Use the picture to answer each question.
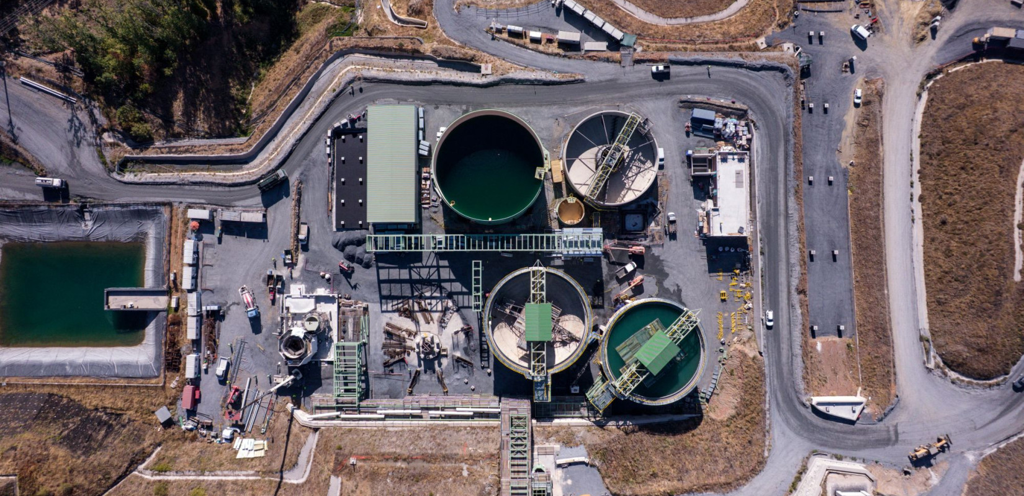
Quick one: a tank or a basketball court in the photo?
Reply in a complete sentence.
The one in the frame is a tank.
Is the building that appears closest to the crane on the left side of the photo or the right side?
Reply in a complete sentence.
The building that appears closest to the crane is on the left side of the image.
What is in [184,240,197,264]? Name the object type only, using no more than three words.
building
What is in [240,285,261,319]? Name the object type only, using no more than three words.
truck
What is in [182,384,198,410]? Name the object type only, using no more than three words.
building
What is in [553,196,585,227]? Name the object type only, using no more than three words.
storage tank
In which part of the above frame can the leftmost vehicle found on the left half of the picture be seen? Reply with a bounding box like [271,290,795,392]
[33,176,68,190]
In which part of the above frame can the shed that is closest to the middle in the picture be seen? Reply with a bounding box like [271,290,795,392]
[367,103,421,223]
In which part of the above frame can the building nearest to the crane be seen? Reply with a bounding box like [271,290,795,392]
[277,284,341,367]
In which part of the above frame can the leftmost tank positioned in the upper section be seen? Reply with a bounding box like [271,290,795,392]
[428,109,550,224]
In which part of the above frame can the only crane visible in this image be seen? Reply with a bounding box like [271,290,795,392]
[231,367,305,415]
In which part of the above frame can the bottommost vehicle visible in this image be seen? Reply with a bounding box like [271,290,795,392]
[904,436,947,462]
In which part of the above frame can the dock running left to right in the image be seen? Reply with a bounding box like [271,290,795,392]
[104,287,169,311]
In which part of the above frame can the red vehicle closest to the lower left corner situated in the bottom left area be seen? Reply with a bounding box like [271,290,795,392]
[223,386,241,406]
